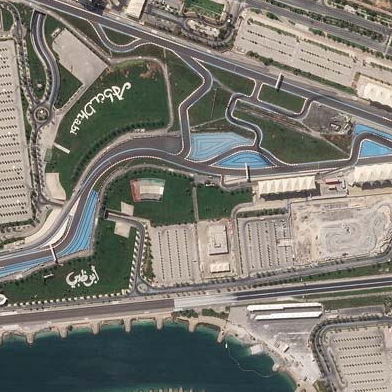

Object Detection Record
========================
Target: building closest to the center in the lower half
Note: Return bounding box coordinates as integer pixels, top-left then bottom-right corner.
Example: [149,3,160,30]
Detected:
[208,224,228,255]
